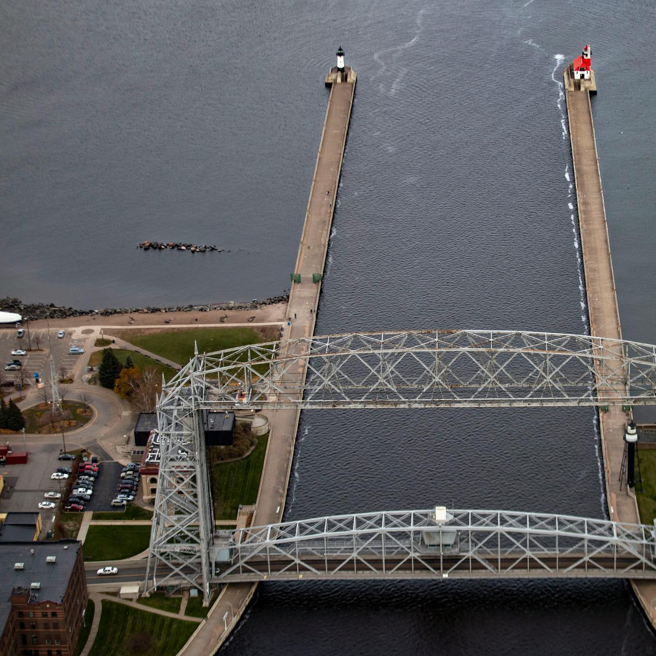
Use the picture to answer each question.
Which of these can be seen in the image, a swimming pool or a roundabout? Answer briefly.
roundabout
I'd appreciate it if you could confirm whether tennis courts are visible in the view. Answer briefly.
No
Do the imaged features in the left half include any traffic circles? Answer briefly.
Yes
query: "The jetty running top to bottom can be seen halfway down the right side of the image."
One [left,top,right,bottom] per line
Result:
[563,62,656,639]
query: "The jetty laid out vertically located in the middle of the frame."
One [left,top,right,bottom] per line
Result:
[177,61,358,656]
